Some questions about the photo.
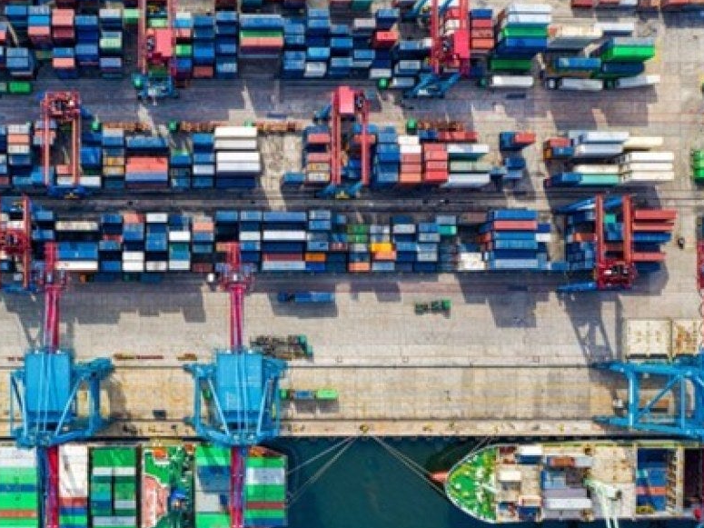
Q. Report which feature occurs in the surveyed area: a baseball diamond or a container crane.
container crane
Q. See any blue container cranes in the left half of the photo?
Yes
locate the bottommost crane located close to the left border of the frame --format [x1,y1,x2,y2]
[10,242,114,528]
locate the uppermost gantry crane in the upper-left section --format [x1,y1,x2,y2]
[136,0,180,99]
